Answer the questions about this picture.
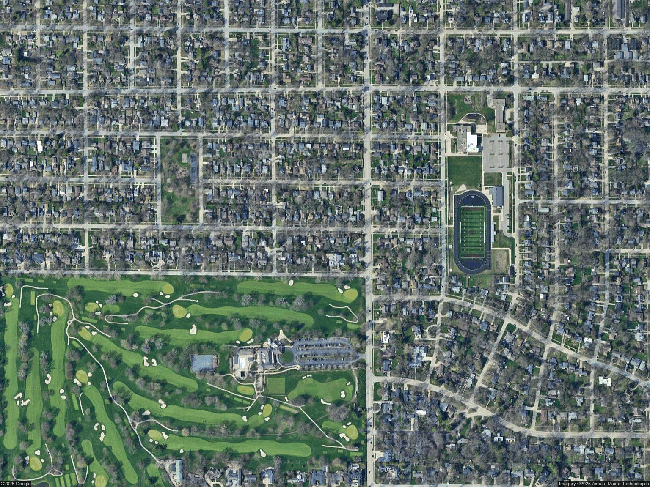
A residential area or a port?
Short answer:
residential area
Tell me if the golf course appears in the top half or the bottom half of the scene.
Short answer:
bottom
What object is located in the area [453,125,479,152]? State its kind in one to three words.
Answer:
building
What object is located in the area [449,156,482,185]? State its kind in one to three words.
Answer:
sports field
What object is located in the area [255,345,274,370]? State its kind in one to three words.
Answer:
building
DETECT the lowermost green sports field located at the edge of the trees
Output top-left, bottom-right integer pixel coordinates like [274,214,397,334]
[460,206,486,258]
